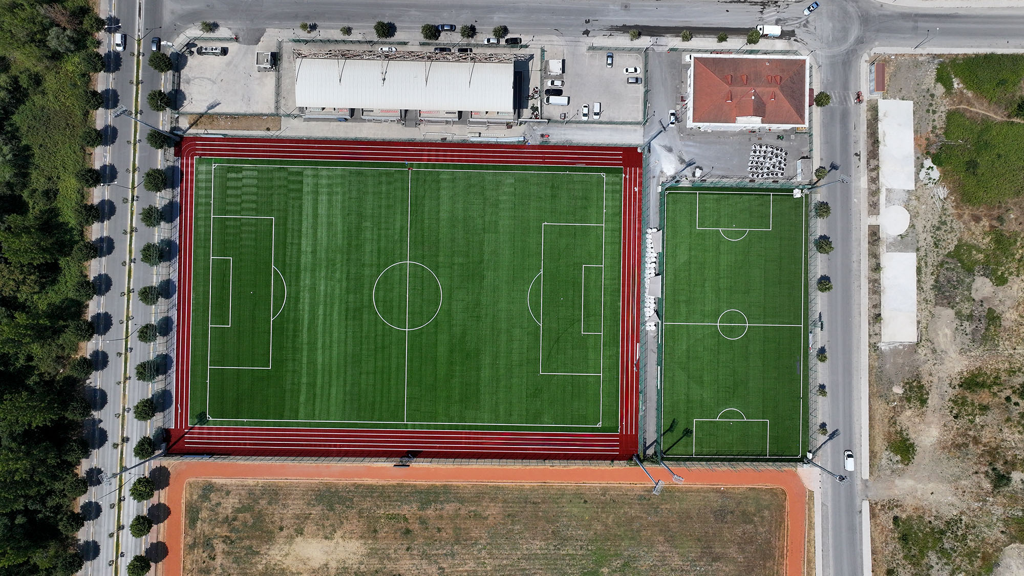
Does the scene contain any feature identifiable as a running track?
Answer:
Yes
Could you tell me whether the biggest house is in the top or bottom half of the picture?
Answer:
top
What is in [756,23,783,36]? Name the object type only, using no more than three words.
vehicle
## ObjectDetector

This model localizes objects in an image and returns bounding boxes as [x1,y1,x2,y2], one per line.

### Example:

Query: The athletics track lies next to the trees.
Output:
[165,137,643,461]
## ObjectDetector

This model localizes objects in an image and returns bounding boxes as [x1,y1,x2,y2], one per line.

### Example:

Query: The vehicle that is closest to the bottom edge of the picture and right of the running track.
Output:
[843,449,856,472]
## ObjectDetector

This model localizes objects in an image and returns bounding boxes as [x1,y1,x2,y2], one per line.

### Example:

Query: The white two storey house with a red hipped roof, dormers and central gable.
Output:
[677,54,814,131]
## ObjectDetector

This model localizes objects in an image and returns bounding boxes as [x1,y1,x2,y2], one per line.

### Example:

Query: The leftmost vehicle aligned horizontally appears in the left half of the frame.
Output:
[197,45,227,57]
